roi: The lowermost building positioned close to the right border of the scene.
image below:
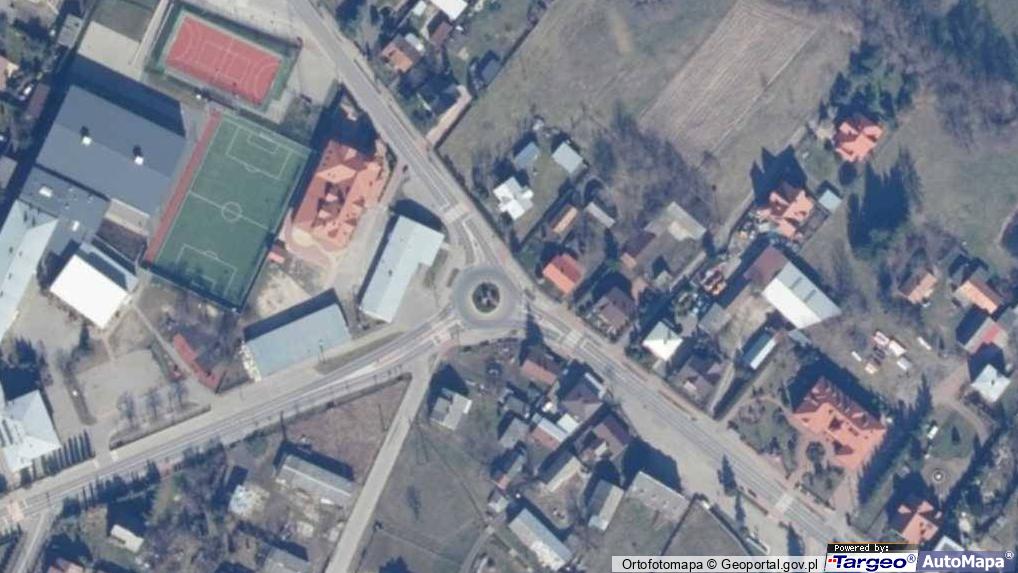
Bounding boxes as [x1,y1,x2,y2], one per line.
[934,537,969,571]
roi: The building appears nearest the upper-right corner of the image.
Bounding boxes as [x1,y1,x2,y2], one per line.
[837,116,886,162]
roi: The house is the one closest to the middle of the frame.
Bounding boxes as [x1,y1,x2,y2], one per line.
[543,253,585,294]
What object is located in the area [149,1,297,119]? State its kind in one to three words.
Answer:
sports court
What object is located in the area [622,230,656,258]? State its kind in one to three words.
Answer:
barn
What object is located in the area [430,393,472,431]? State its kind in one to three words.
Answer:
house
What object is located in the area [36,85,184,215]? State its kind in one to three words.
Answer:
building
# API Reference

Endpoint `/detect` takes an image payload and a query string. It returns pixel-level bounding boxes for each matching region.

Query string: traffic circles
[453,265,519,330]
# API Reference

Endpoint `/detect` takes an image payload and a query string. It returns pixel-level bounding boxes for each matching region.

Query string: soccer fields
[142,108,311,309]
